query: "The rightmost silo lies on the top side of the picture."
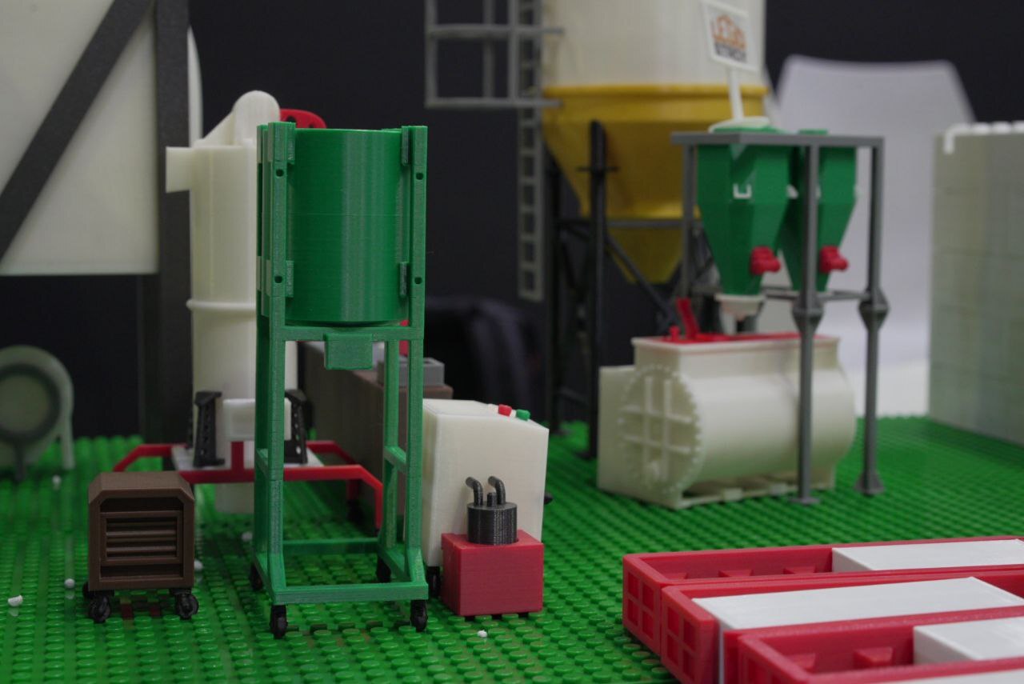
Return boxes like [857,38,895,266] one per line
[424,0,767,460]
